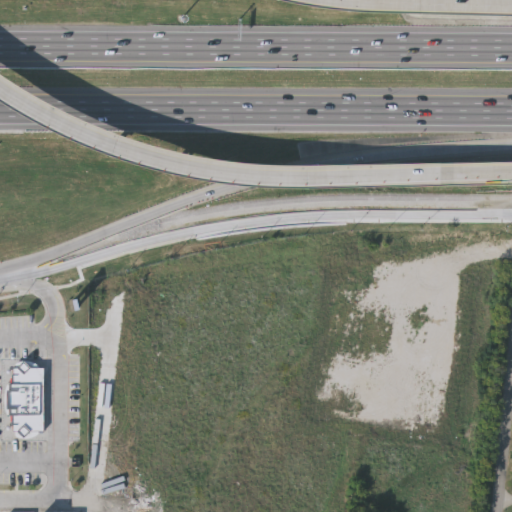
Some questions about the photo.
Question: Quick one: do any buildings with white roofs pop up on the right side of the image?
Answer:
No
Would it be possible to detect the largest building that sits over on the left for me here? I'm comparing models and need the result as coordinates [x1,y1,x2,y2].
[4,361,44,438]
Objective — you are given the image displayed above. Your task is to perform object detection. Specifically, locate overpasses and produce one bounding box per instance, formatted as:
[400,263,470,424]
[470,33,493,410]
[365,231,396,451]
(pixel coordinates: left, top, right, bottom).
[0,74,512,188]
